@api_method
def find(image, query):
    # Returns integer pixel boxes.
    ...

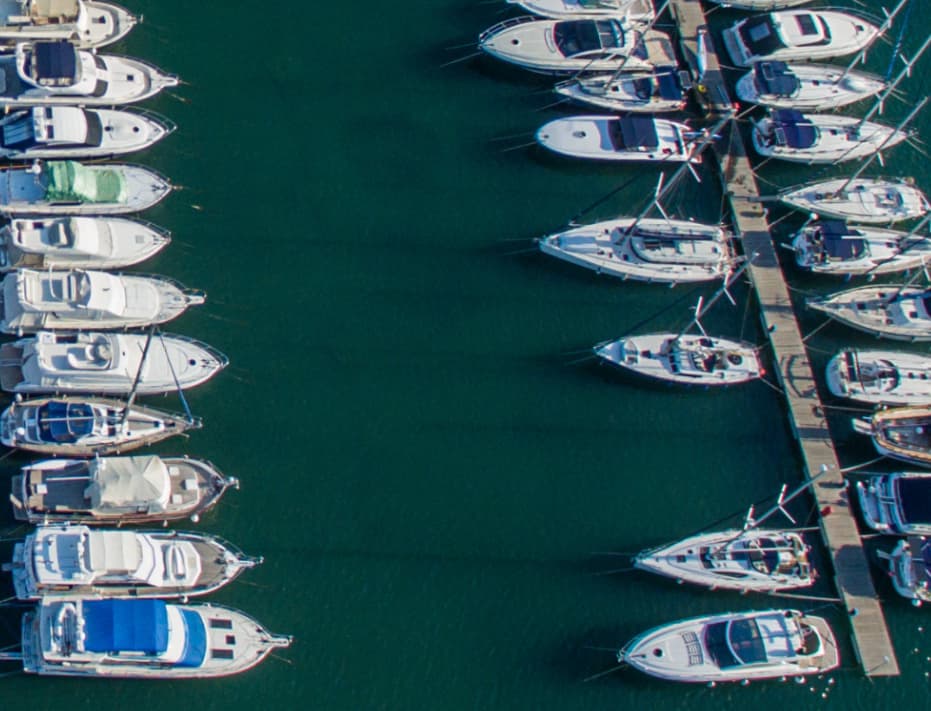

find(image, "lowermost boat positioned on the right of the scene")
[621,610,846,685]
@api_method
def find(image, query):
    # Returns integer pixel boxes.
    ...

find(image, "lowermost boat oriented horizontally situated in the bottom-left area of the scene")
[0,586,292,680]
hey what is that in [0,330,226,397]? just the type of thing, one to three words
boat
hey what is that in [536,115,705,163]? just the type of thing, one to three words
boat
